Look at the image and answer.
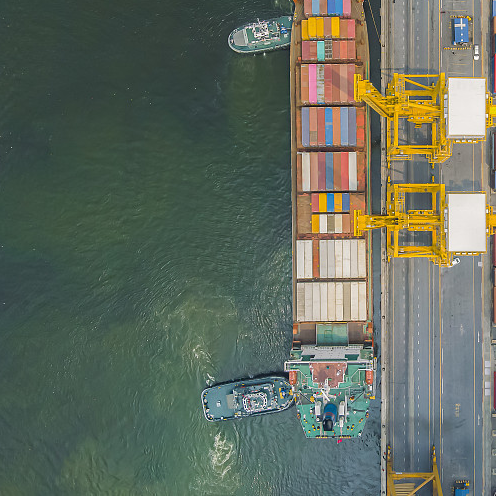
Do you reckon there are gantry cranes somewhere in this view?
Yes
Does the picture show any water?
Yes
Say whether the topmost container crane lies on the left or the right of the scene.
right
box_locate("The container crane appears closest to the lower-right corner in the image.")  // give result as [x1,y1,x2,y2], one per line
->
[388,446,444,496]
